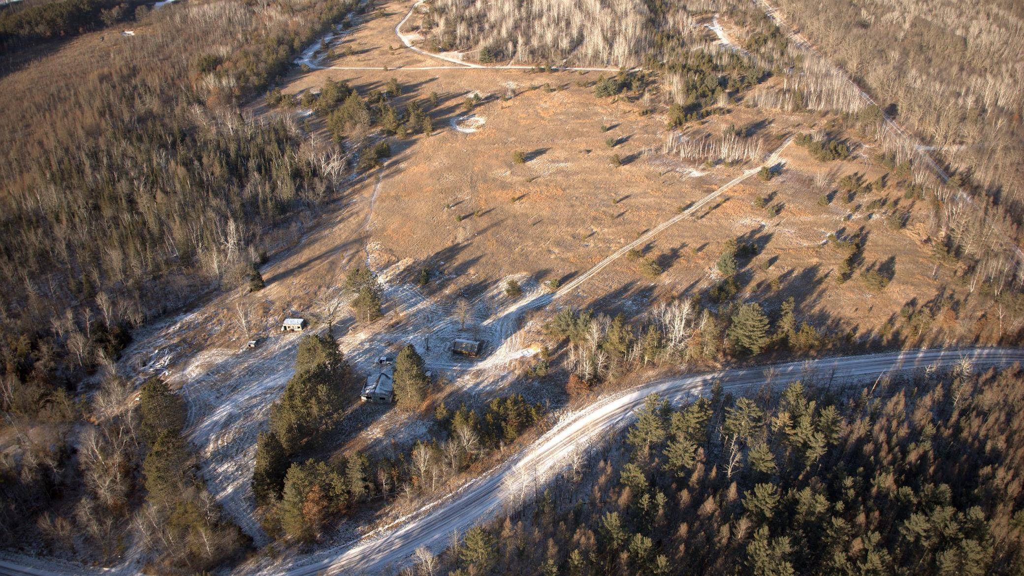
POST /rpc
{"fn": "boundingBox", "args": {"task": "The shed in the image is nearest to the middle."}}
[451,338,480,357]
